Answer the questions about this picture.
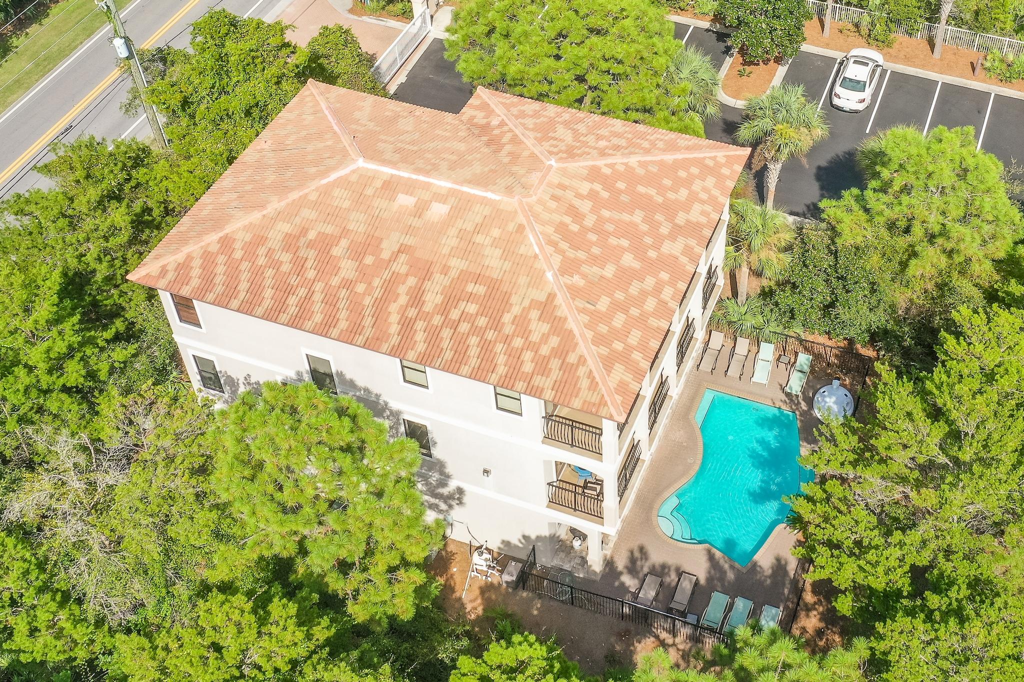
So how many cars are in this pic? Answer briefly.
1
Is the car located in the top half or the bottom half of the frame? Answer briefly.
top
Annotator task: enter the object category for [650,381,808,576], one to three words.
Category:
swimming pool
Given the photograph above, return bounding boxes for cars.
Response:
[827,51,884,118]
